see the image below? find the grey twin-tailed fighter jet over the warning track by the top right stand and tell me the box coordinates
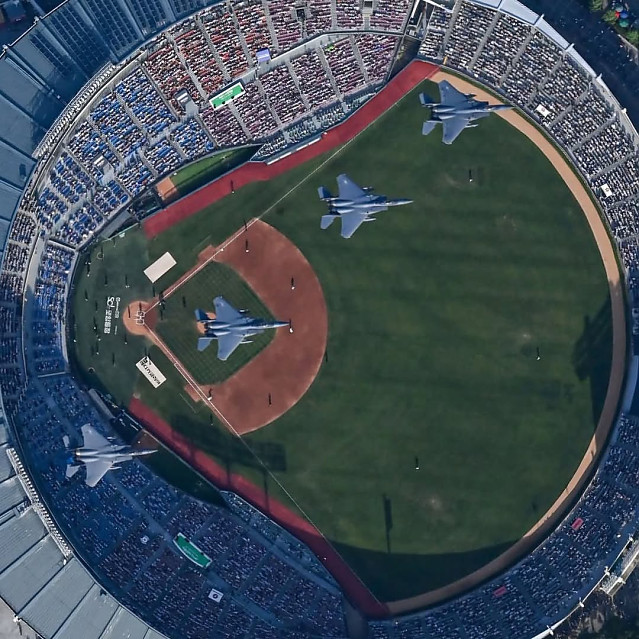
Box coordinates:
[419,79,514,144]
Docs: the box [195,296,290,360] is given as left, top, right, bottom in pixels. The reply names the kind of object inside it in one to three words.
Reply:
airplane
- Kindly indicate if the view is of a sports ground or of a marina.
sports ground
